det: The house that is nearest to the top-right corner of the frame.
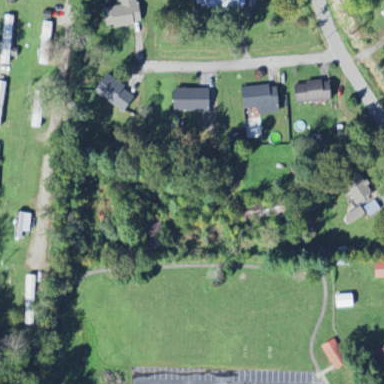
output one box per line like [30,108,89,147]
[294,79,332,102]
